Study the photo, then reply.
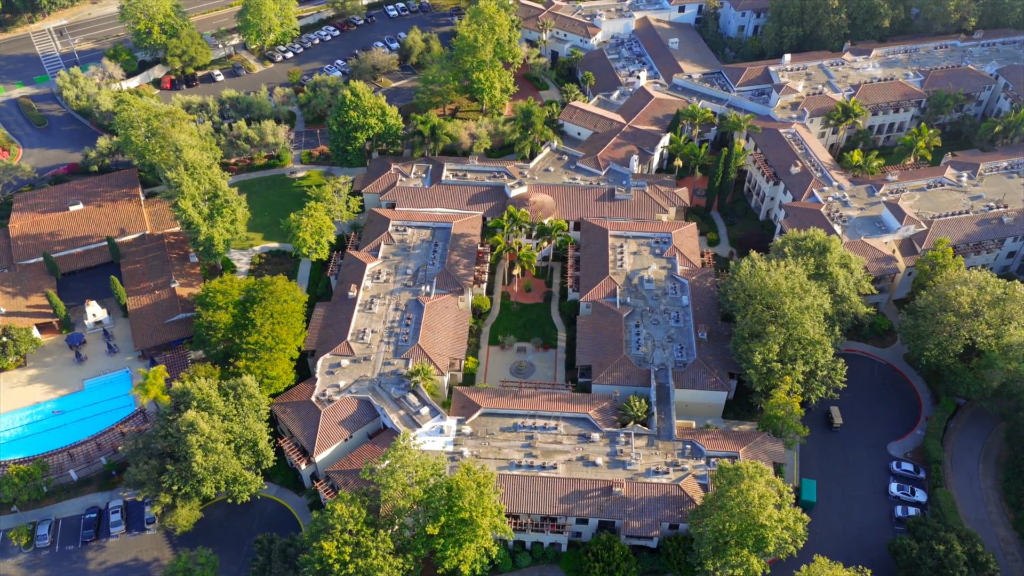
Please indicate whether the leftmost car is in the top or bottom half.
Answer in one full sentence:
Seen from above, the leftmost car lies in the bottom half of the view.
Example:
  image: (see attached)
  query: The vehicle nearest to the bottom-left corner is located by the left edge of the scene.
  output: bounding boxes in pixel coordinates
[32,511,57,552]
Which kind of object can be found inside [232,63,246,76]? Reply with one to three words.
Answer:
vehicle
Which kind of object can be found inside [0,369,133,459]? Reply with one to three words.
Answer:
swimming pool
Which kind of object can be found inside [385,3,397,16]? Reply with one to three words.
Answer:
vehicle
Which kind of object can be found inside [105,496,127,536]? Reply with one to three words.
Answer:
car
